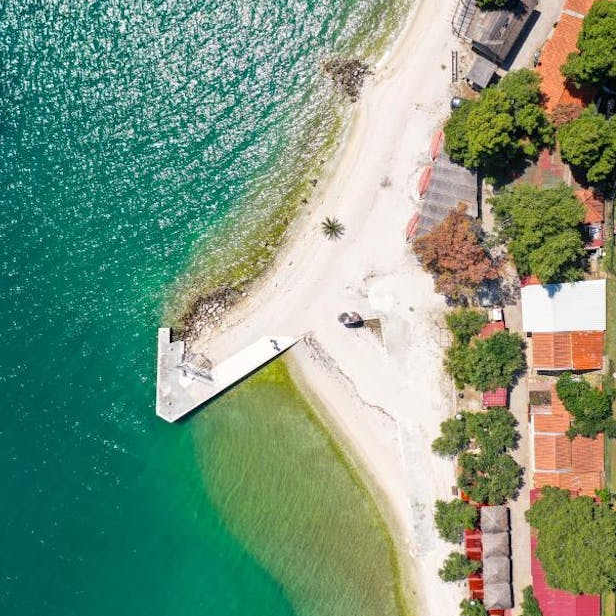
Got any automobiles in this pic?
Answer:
No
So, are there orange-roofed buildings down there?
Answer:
Yes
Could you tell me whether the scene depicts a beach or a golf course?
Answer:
beach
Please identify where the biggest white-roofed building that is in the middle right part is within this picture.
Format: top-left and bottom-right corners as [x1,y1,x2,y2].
[521,280,606,332]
